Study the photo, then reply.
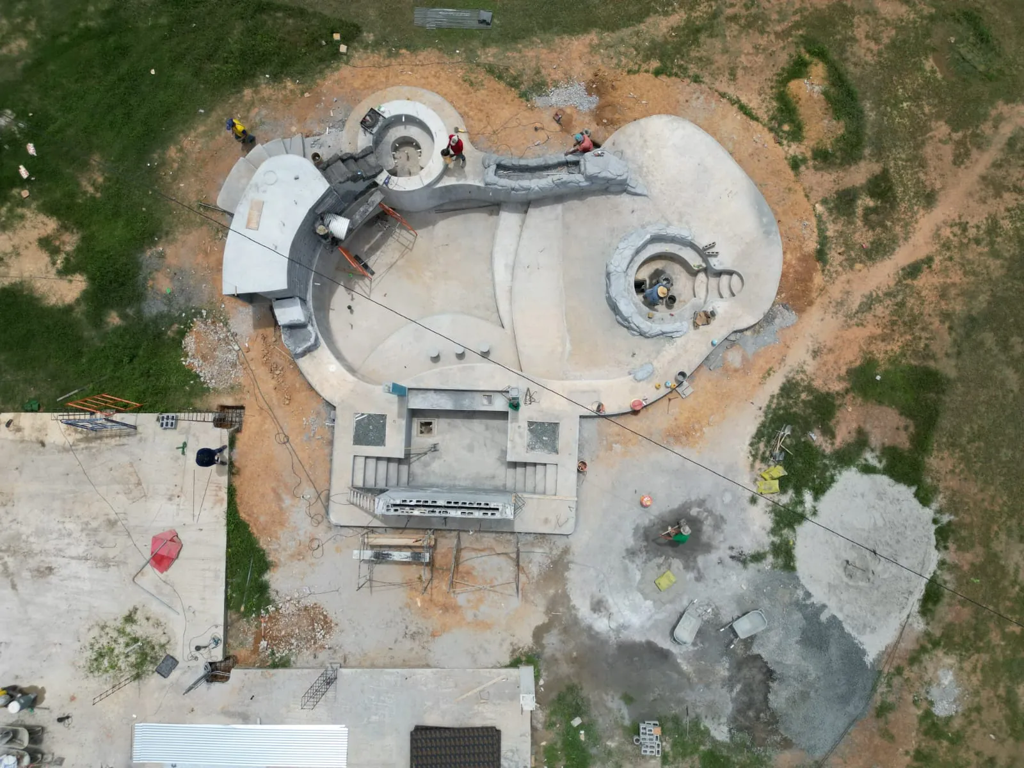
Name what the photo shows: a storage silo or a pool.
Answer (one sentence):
Visible in the photo is a pool.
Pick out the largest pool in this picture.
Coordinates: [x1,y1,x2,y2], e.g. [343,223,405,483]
[269,87,782,535]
